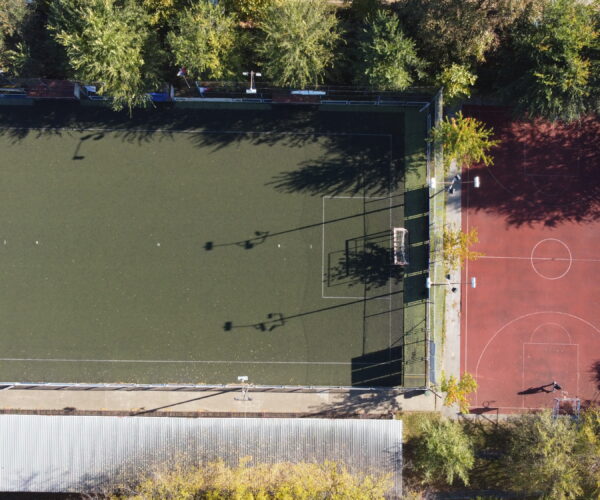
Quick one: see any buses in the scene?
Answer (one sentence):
No, this view has no bus in it.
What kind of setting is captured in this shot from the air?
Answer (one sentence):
This looks like a sports ground.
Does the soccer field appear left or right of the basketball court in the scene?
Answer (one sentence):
Relative to the basketball court, the soccer field lies to the left.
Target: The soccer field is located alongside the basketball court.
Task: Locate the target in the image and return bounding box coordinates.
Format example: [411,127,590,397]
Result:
[0,103,430,385]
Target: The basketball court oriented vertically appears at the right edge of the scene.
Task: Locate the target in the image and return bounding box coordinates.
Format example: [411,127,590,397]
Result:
[461,106,600,414]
